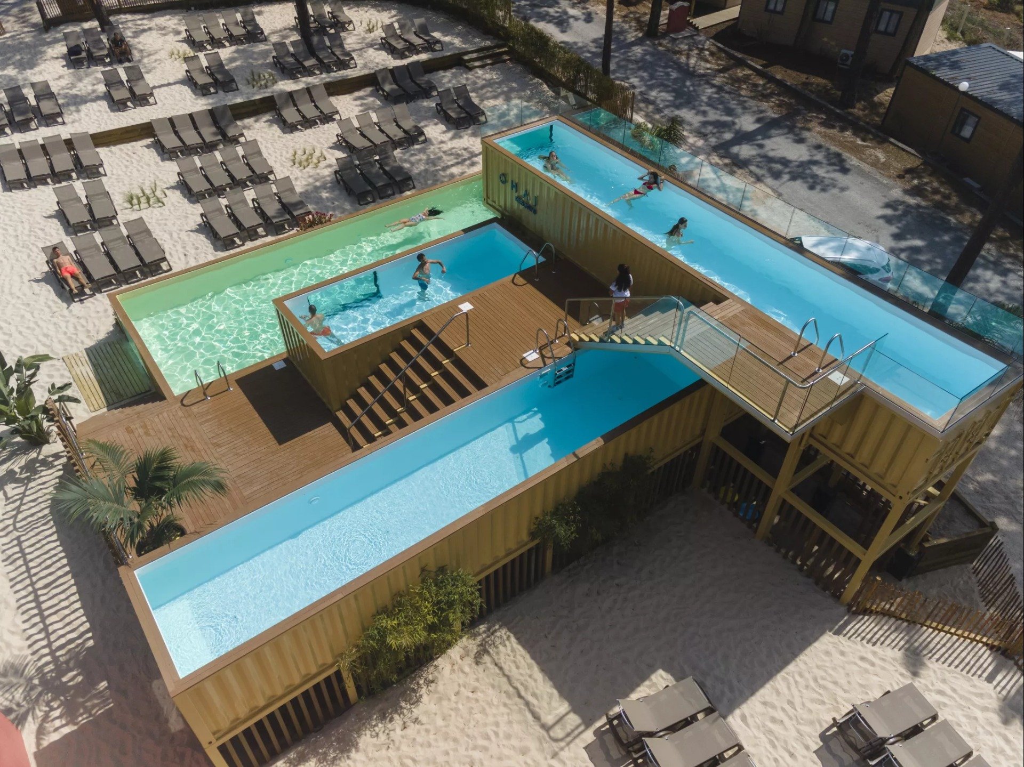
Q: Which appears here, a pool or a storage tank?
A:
pool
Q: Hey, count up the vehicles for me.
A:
1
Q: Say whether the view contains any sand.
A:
Yes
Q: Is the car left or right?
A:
right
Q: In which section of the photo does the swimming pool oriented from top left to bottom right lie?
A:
right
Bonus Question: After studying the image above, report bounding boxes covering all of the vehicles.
[780,231,889,292]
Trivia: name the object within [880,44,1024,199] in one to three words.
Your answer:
building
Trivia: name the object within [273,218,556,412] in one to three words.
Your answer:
swimming pool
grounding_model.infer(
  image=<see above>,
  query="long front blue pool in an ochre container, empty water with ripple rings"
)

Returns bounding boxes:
[118,345,714,746]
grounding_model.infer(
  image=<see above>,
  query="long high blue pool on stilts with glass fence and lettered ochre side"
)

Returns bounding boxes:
[481,114,1024,502]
